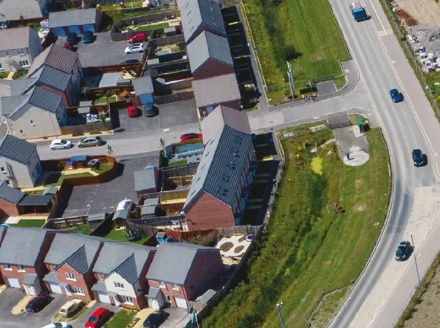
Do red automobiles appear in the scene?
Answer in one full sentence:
Yes, there's a red automobile down there.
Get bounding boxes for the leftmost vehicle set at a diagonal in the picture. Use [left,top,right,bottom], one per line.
[23,288,55,313]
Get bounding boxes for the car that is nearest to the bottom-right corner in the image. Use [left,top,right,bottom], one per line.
[393,235,411,258]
